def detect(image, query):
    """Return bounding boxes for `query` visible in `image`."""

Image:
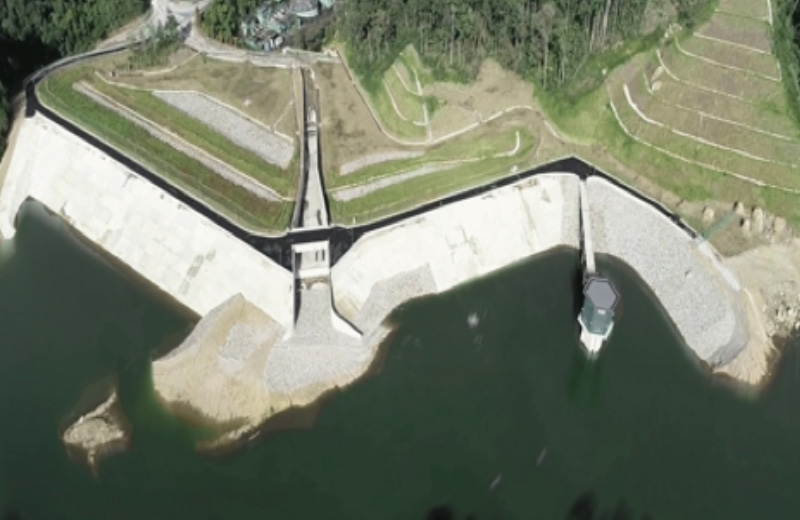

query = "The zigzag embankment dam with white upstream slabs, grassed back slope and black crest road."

[0,72,748,369]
